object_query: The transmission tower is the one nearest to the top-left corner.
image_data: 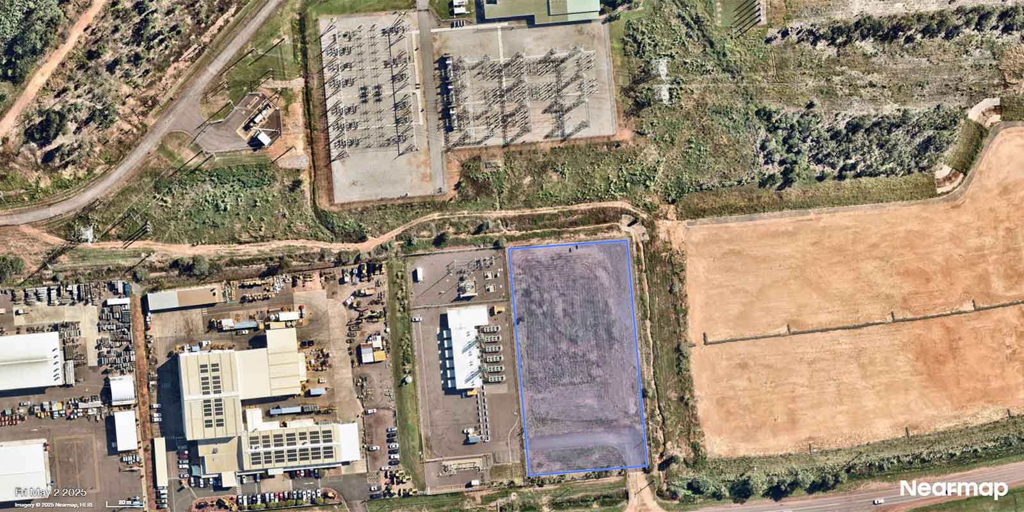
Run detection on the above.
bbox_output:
[79,225,95,243]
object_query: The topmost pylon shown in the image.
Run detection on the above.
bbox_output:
[656,54,671,81]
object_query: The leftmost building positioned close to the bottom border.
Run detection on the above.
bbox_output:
[0,438,54,501]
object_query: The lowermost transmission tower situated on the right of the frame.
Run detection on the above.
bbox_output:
[658,81,673,106]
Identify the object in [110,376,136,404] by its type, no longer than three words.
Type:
shed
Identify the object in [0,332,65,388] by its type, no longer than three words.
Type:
building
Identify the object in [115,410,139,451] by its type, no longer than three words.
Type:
shed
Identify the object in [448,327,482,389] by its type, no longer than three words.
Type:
building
